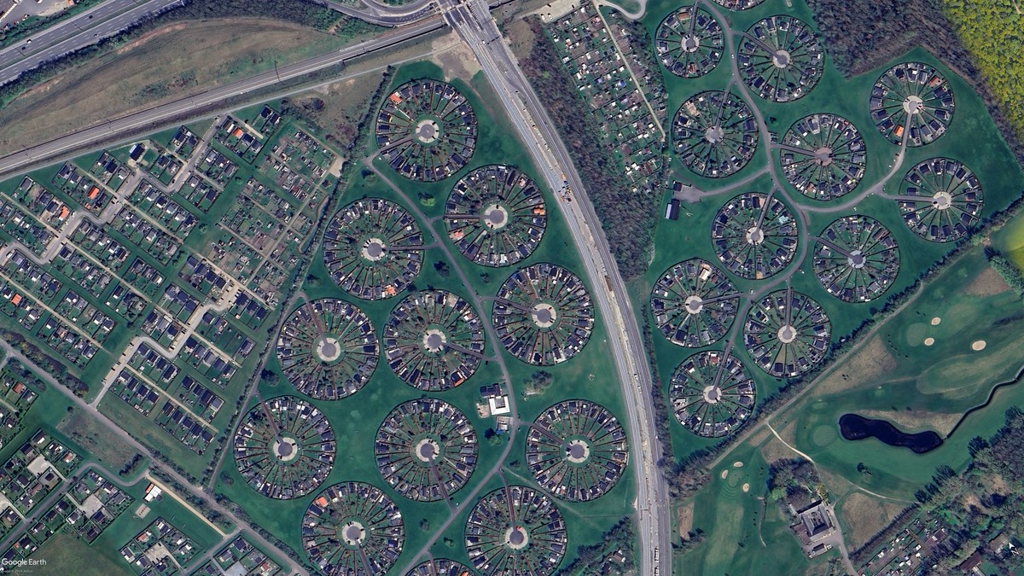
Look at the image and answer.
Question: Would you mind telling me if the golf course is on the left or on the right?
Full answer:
It is on the right.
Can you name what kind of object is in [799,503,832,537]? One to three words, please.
building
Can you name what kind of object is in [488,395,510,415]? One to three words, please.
building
